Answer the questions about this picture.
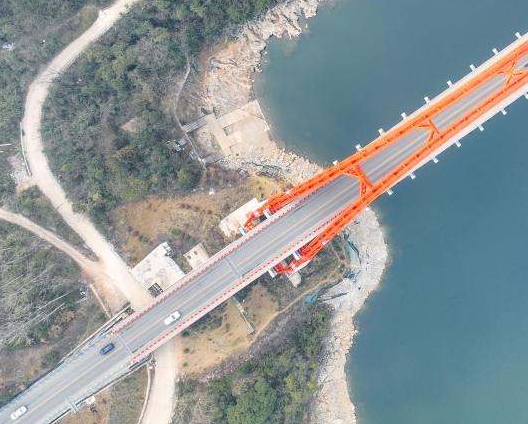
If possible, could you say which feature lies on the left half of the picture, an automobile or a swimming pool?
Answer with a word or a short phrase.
automobile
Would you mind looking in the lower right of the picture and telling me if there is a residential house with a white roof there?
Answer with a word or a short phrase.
No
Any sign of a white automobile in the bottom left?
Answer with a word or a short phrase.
Yes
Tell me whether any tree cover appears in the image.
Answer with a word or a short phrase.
Yes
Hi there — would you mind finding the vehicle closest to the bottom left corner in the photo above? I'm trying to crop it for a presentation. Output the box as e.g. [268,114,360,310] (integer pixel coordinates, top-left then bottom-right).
[7,405,27,422]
